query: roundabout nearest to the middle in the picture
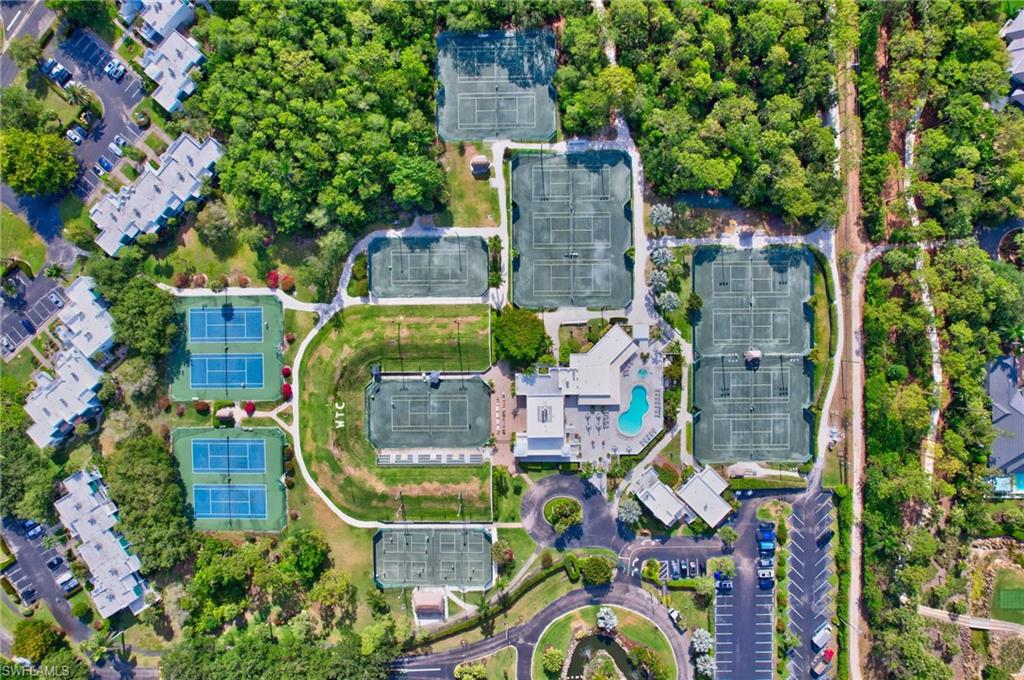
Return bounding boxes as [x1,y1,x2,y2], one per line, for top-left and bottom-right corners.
[530,479,599,547]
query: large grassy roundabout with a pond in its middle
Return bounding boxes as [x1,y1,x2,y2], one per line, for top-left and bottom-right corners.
[518,589,692,680]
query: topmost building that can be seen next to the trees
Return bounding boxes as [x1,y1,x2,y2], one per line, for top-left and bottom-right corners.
[119,0,199,53]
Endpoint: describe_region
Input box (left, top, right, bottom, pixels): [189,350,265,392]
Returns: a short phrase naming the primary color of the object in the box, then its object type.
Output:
blue tennis court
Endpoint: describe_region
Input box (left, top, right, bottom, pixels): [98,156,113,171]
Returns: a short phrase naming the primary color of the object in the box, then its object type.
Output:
blue car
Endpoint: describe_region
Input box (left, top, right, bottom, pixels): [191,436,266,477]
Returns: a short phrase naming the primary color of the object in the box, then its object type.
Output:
blue tennis court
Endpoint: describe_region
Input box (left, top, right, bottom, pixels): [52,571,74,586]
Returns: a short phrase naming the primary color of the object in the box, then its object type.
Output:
white vehicle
